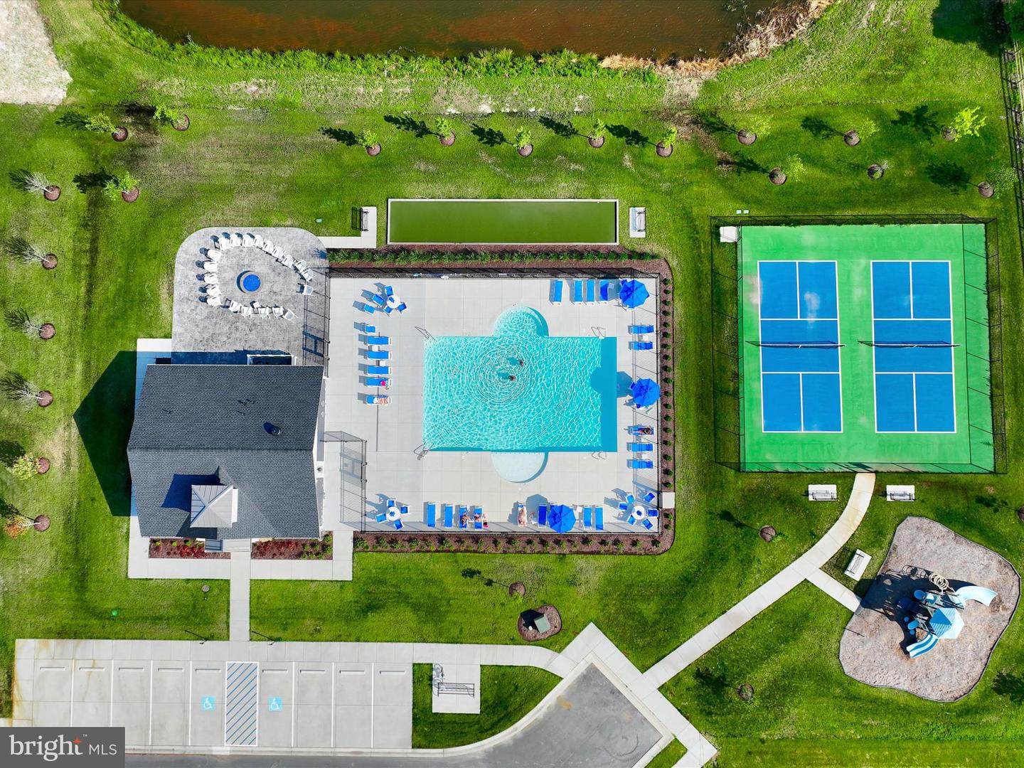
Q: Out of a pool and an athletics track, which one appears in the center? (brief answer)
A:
pool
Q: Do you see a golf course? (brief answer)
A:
No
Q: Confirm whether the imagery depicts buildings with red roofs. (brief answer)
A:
No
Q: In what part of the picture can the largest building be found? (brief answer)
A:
left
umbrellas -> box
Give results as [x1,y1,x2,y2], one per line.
[618,279,648,309]
[547,504,576,533]
[628,377,659,408]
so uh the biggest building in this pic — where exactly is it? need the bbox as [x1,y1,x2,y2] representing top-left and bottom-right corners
[127,352,328,552]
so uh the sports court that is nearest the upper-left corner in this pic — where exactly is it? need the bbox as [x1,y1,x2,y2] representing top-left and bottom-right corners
[388,199,619,245]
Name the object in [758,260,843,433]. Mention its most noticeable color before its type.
blue sports court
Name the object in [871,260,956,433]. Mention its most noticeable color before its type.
blue sports court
